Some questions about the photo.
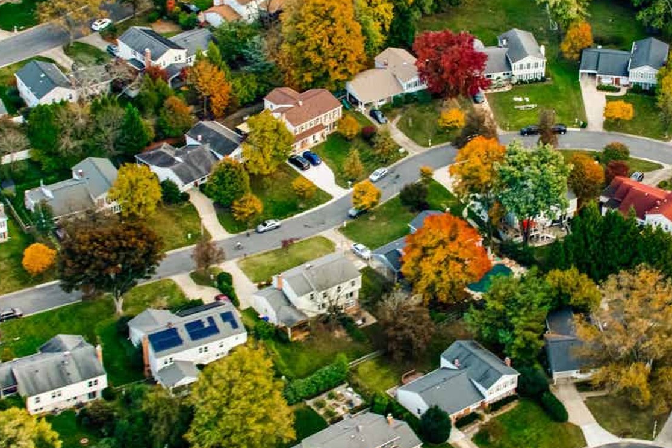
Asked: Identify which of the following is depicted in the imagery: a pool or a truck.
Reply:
pool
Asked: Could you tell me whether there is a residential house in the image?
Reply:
Yes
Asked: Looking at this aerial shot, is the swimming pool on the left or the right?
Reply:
right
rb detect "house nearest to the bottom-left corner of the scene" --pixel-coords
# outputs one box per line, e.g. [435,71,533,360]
[0,320,107,420]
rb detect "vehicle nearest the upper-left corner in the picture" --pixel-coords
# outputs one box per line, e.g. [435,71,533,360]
[88,17,114,32]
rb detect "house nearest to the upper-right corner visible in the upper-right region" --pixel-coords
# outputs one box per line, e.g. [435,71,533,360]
[579,26,663,94]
